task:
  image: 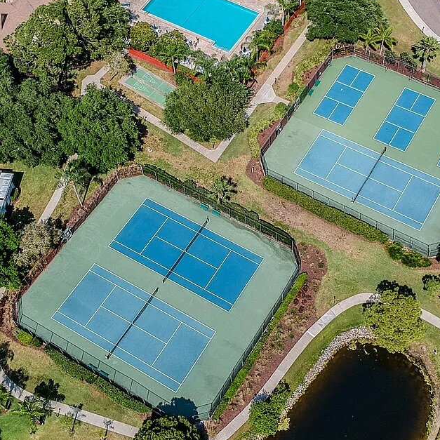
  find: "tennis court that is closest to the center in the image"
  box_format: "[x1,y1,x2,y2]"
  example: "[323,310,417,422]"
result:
[108,198,265,313]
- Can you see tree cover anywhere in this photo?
Yes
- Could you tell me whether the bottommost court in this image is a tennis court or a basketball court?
tennis court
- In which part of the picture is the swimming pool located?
top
